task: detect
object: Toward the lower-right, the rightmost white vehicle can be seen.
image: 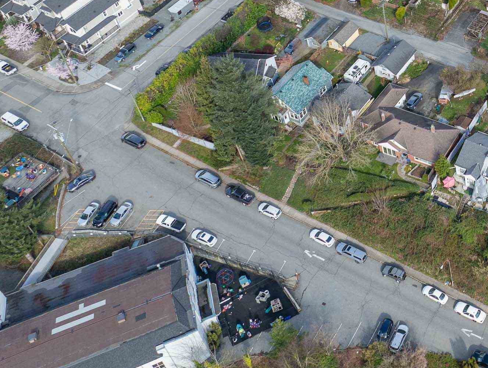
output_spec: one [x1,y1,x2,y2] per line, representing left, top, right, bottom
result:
[455,304,486,325]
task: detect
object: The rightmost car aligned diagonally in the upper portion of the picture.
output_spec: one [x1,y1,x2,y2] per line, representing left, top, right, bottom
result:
[404,92,426,110]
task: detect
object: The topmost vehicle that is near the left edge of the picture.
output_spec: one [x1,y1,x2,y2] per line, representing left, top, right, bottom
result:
[0,62,17,74]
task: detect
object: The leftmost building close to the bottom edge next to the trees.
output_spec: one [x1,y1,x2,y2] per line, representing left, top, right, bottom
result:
[0,240,225,368]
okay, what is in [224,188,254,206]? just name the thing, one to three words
vehicle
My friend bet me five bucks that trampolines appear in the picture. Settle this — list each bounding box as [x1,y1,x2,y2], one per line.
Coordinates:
[253,16,275,36]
